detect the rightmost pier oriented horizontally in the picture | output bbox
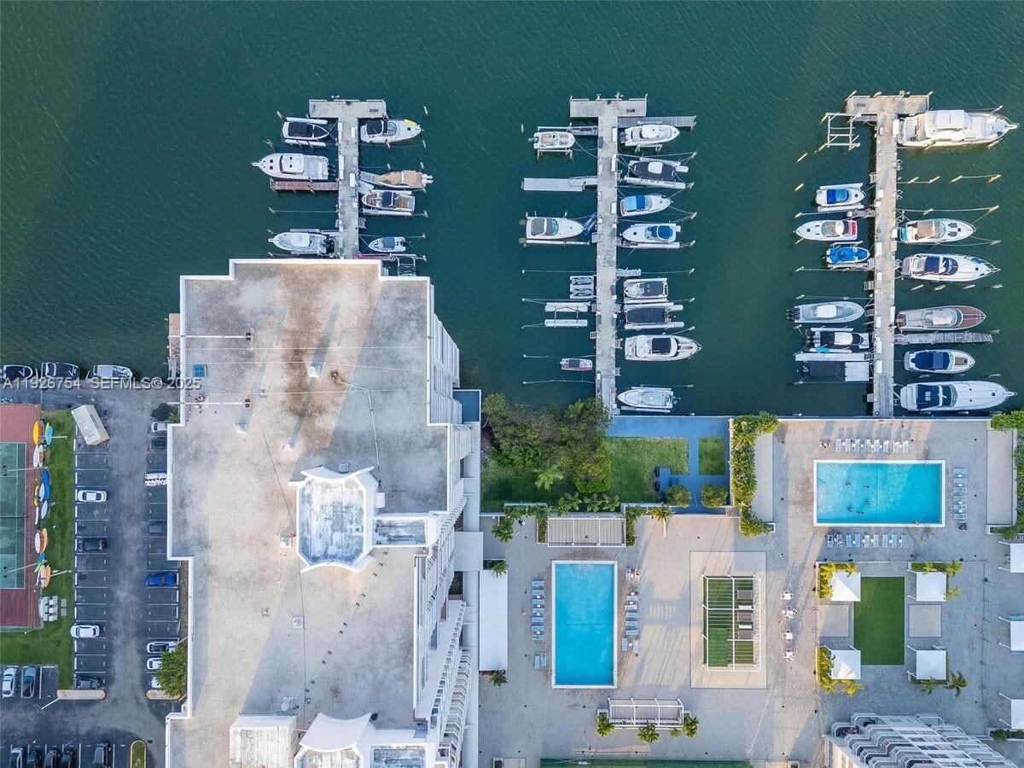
[895,333,993,346]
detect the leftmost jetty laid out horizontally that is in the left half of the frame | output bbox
[272,180,338,193]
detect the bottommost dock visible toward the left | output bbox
[166,313,181,380]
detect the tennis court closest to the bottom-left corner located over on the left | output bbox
[0,404,43,634]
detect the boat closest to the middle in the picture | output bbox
[556,359,592,372]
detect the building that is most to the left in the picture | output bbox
[167,260,474,768]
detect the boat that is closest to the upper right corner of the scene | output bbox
[895,109,1015,151]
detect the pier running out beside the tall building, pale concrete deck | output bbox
[309,92,387,260]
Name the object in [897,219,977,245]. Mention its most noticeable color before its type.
white boat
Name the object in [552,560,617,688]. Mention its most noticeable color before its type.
blue swimming pool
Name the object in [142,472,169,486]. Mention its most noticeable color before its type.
white vehicle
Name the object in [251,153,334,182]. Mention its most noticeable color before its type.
white boat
